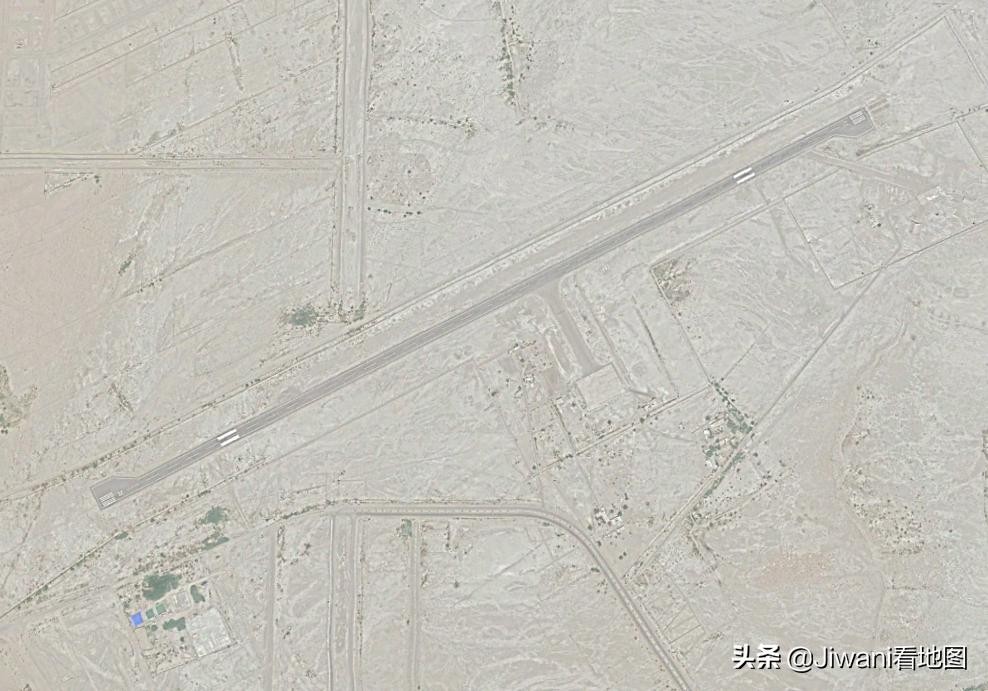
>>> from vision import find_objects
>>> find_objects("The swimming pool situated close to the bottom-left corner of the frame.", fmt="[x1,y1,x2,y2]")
[129,611,144,627]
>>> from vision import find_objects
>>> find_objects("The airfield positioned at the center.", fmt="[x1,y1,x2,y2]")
[90,108,874,510]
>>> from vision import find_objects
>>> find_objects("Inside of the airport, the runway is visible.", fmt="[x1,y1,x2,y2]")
[90,108,874,510]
